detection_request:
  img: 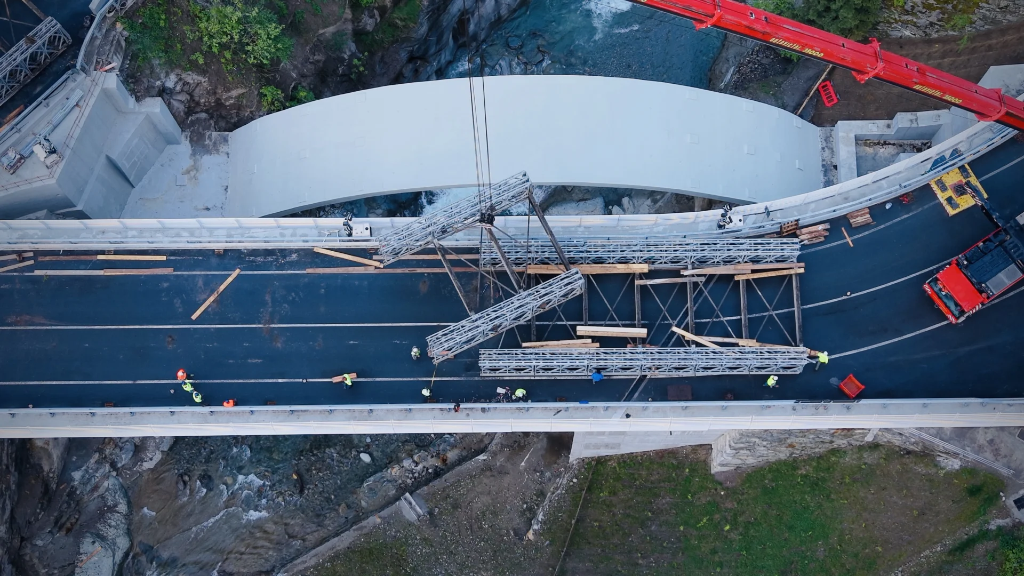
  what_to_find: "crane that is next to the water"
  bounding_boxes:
[547,0,1024,324]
